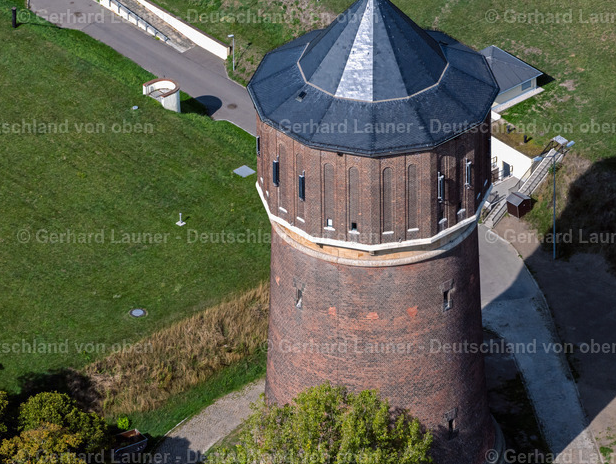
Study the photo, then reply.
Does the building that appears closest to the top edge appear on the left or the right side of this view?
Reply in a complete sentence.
The building that appears closest to the top edge is on the right side of the image.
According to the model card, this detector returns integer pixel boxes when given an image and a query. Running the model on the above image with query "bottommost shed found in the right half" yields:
[507,190,531,217]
